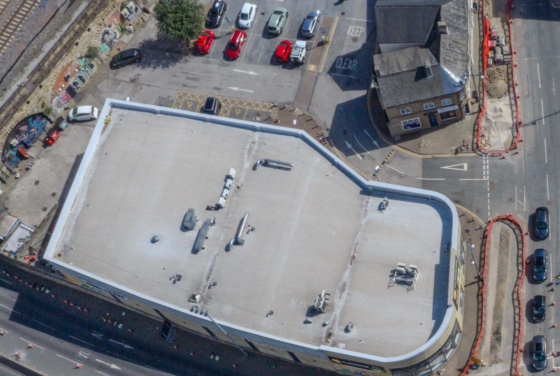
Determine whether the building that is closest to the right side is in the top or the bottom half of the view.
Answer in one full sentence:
Seen from above, the building that is closest to the right side lies in the top half of the view.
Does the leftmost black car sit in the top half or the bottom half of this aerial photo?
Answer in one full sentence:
The leftmost black car is in the top half of the image.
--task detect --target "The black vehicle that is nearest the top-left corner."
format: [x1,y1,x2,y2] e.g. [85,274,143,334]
[109,47,143,70]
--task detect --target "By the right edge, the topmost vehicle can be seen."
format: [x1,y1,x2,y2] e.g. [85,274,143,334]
[534,206,549,239]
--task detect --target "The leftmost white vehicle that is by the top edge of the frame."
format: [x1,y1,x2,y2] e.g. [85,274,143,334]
[238,1,257,28]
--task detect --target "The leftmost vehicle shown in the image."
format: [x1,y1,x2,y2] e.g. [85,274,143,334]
[68,104,100,122]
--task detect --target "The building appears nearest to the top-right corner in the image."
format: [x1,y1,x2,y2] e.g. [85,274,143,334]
[371,0,476,135]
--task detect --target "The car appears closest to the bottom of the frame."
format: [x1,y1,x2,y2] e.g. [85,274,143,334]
[531,334,548,371]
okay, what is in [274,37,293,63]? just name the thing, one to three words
car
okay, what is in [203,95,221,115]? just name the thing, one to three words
car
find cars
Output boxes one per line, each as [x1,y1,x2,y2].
[531,293,547,324]
[274,37,293,63]
[225,28,247,60]
[68,104,100,122]
[532,247,548,282]
[109,47,143,70]
[300,11,319,40]
[206,0,227,26]
[203,95,221,115]
[266,7,286,35]
[534,206,549,239]
[238,1,257,28]
[531,334,548,371]
[196,29,216,54]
